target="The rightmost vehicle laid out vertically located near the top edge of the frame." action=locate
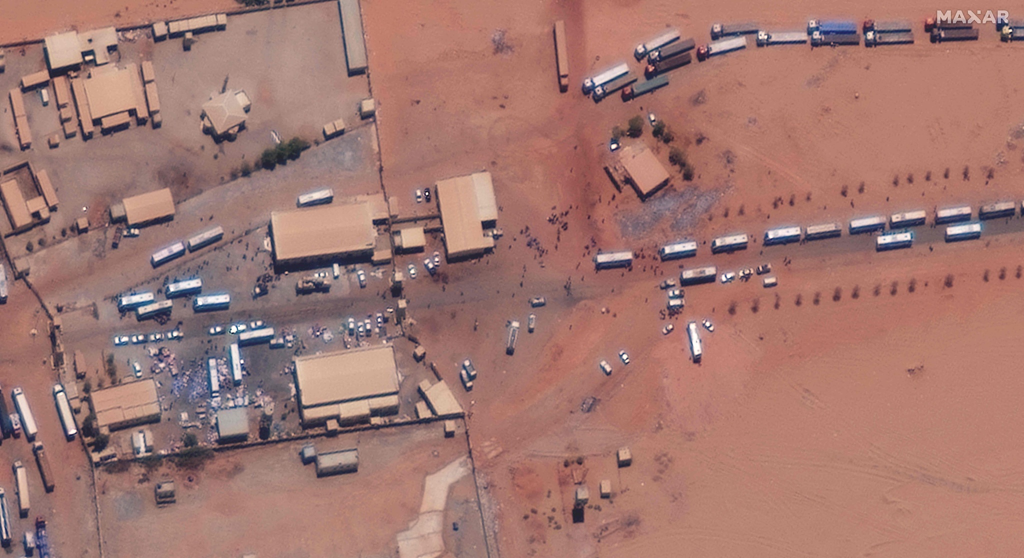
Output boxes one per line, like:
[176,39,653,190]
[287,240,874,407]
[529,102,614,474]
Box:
[555,21,569,87]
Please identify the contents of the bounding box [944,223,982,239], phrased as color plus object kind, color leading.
white vehicle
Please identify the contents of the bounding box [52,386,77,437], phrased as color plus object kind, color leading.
white truck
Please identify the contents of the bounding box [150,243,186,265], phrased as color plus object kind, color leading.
white bus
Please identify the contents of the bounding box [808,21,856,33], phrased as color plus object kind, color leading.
blue vehicle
